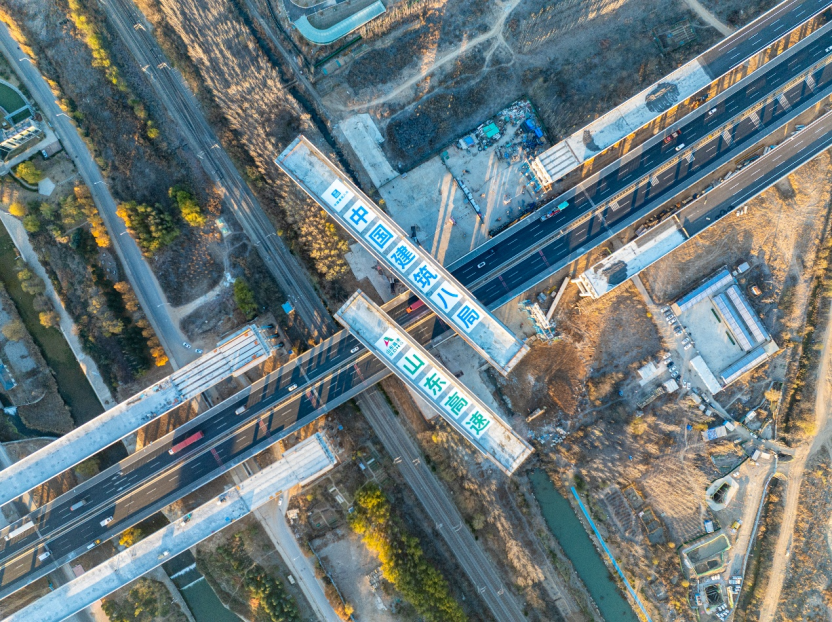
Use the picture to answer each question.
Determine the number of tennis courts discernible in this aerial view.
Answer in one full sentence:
The picture shows no tennis courts.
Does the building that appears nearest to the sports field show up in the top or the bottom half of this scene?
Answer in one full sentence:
It is in the top half that the building that appears nearest to the sports field appears.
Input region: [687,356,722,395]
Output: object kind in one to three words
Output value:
building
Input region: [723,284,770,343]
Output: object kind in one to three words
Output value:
building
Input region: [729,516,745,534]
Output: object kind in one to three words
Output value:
vehicle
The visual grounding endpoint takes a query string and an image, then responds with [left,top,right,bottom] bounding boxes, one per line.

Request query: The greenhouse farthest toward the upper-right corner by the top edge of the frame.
[647,18,696,60]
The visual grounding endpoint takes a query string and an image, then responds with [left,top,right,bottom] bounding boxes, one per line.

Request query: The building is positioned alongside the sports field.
[0,110,41,151]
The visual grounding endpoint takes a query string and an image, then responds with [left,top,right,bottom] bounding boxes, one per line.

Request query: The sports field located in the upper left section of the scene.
[0,77,39,124]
